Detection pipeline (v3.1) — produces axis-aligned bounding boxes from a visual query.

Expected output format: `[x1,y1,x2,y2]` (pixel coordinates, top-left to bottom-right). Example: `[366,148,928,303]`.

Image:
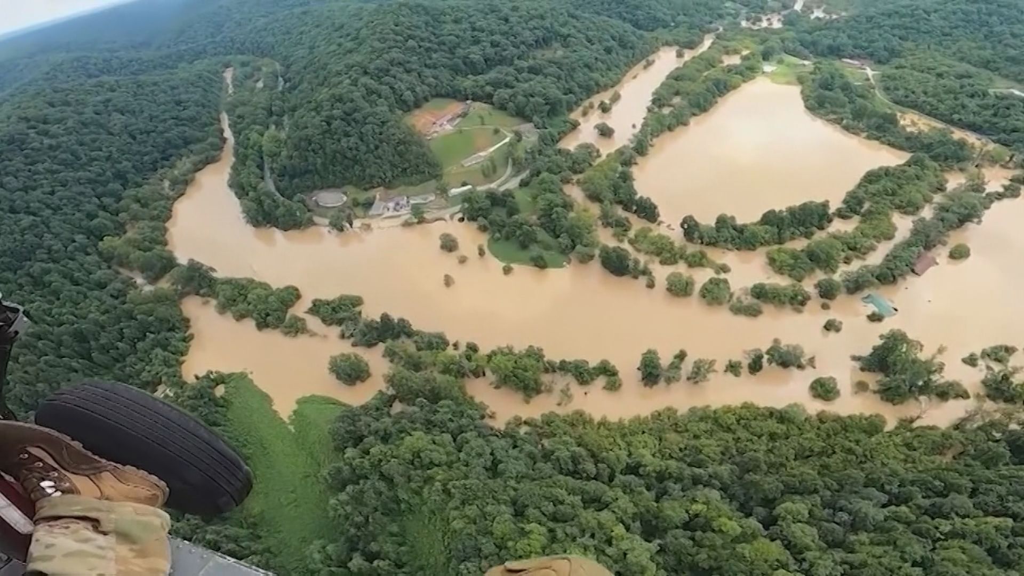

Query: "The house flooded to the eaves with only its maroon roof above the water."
[908,255,942,277]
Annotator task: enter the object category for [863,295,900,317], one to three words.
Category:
house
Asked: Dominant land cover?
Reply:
trees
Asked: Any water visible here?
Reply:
Yes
